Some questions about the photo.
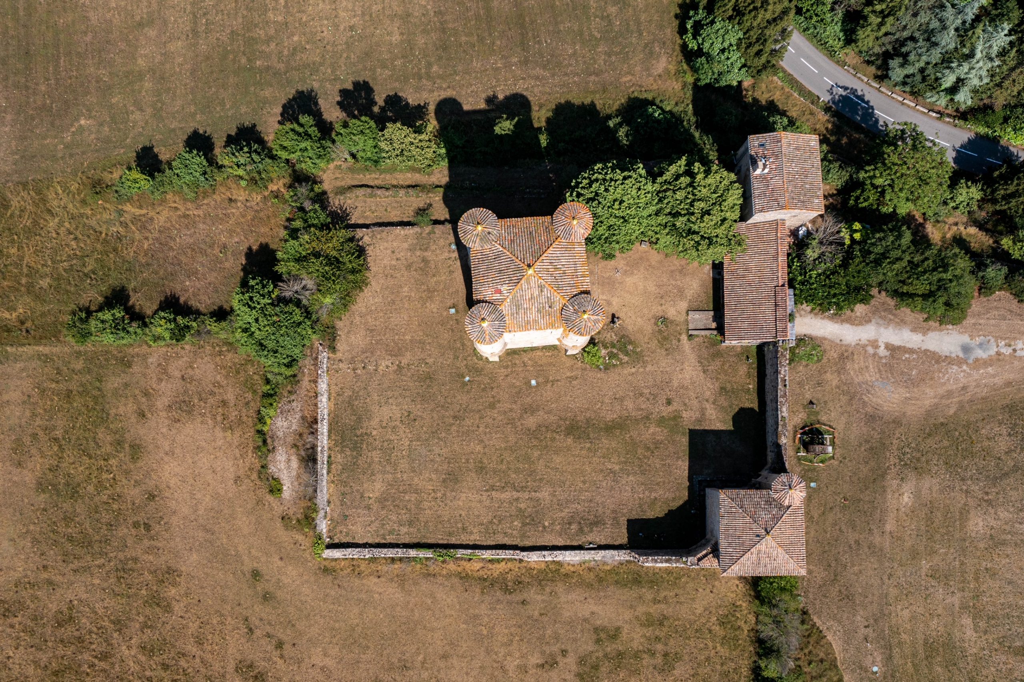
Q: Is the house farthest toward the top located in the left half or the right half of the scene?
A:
right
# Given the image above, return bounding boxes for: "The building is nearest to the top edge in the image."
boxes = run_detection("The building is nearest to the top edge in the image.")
[734,131,825,228]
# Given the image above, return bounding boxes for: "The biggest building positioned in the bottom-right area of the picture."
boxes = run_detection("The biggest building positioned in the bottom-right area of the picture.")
[708,470,808,577]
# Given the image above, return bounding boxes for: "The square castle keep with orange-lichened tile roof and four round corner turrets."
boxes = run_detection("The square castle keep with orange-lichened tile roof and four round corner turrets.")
[457,200,606,357]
